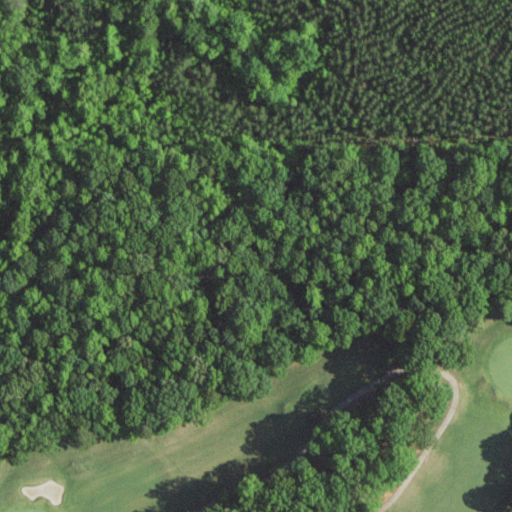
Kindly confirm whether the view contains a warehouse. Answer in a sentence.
No, no warehouse is visible in the scene.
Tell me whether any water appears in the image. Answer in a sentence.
No, the picture contains no water.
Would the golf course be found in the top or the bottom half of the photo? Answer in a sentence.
It is in the bottom half that the golf course appears.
